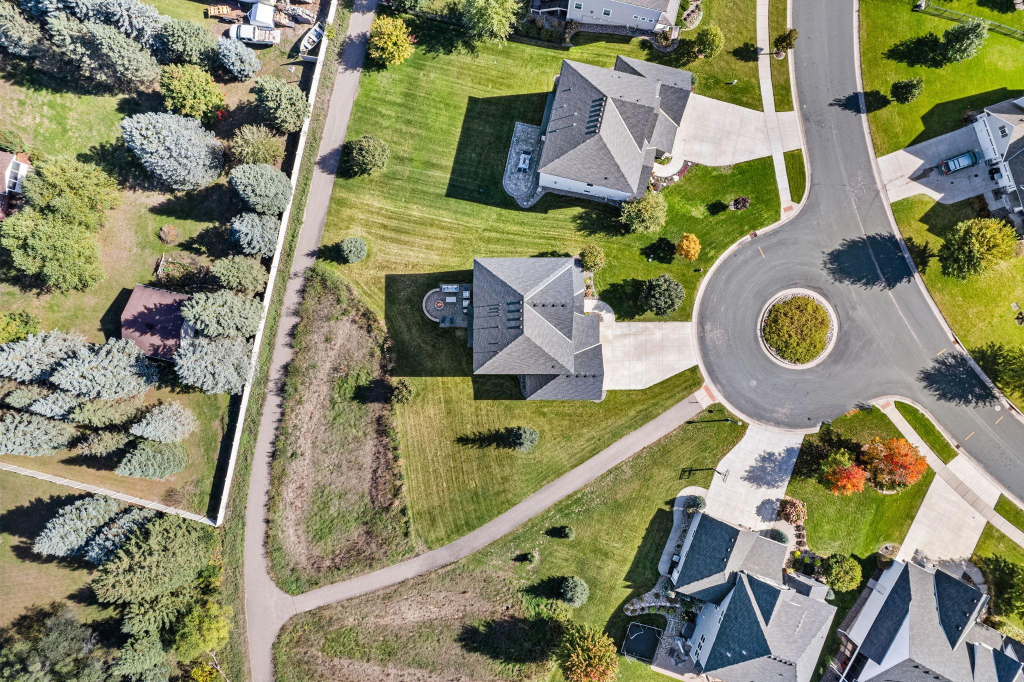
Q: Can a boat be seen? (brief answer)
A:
Yes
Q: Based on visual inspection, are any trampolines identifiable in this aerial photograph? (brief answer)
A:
Yes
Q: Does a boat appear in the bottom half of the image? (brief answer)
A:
No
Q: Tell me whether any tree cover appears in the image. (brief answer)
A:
Yes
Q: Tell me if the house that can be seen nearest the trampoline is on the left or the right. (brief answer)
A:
right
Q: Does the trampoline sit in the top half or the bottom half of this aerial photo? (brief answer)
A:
bottom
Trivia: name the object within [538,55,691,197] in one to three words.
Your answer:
house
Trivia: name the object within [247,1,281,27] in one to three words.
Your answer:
trailer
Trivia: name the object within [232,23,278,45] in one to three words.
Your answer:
truck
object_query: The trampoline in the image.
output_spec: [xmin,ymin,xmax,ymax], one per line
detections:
[621,621,663,662]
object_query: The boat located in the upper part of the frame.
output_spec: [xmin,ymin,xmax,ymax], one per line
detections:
[296,21,320,54]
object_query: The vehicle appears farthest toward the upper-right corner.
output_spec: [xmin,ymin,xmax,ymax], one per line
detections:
[942,149,983,176]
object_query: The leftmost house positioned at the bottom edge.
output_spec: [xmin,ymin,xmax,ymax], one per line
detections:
[672,512,837,682]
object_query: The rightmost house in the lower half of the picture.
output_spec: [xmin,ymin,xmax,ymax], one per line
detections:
[844,560,1024,682]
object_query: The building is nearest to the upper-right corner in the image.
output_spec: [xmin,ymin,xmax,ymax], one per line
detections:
[972,93,1024,219]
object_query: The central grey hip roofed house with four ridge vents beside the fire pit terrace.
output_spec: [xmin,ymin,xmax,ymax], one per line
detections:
[468,257,604,400]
